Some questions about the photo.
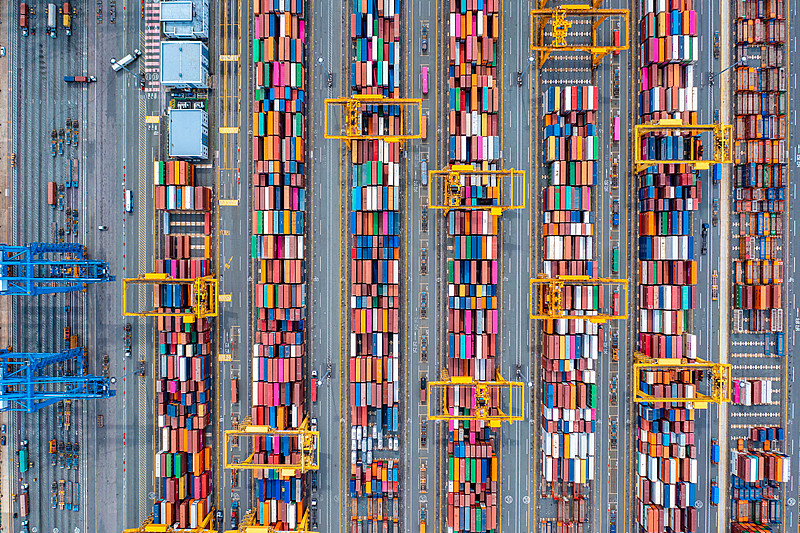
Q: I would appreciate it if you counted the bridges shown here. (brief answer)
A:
0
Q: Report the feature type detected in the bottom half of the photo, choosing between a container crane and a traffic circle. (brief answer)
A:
container crane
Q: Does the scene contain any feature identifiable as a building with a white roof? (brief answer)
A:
No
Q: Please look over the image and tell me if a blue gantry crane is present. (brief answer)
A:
Yes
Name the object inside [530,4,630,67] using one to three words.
container crane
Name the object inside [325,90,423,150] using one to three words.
container crane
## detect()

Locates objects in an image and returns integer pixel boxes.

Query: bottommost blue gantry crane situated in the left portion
[0,341,121,416]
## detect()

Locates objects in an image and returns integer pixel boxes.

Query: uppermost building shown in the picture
[160,0,209,41]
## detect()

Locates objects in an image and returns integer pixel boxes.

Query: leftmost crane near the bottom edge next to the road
[123,506,217,533]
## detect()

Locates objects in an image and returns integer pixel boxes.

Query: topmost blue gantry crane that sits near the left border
[0,238,121,298]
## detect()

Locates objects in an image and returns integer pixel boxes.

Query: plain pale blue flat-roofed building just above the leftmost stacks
[169,109,209,161]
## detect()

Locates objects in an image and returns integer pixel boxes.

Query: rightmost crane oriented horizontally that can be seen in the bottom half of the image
[633,350,732,410]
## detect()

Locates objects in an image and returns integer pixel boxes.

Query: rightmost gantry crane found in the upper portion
[634,116,734,173]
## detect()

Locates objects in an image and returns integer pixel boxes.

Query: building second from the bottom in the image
[161,41,208,88]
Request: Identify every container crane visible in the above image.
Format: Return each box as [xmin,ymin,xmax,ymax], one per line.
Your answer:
[429,164,525,216]
[428,367,524,428]
[633,350,732,410]
[325,90,423,150]
[123,268,218,324]
[530,4,630,67]
[224,413,319,478]
[225,506,318,533]
[0,238,121,298]
[0,341,121,416]
[123,506,217,533]
[530,270,629,327]
[634,116,734,173]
